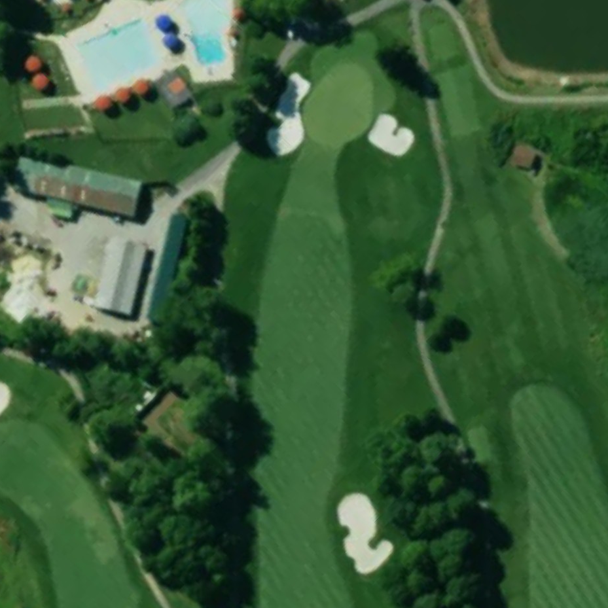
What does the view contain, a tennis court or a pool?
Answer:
pool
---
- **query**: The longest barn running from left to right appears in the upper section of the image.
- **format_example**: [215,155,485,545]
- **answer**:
[21,157,142,217]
